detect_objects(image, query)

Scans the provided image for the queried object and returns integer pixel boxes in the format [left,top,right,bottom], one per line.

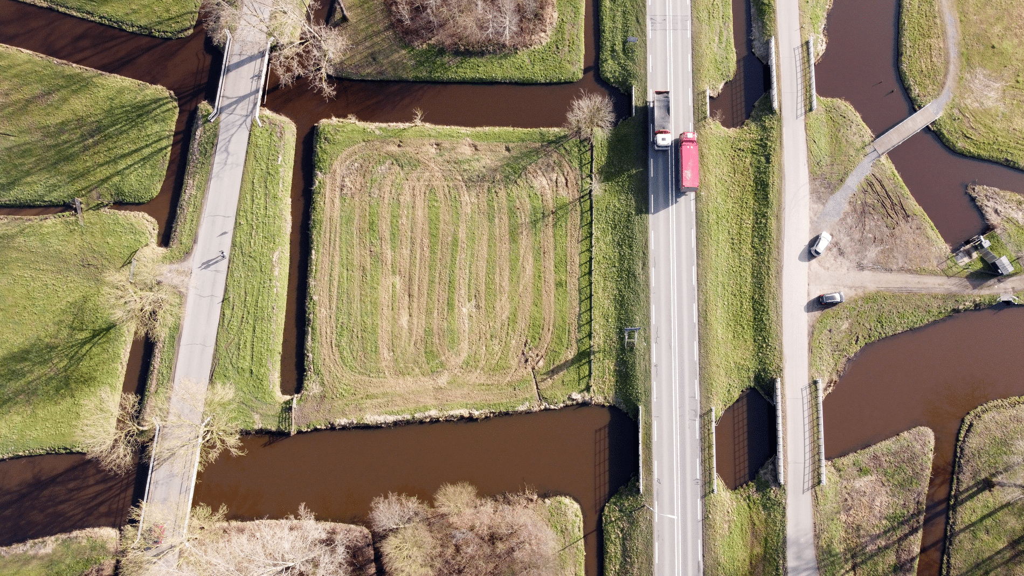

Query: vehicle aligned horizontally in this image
[817,291,846,306]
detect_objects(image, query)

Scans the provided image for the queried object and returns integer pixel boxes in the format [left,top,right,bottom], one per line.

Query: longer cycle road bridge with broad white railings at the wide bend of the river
[766,371,827,492]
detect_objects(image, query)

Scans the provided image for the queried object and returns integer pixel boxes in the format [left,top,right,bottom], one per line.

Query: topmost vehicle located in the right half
[653,90,672,151]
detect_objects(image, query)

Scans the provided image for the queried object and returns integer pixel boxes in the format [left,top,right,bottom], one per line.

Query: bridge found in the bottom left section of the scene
[131,415,213,547]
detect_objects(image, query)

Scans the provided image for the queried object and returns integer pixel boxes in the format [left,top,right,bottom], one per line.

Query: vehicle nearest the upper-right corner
[810,231,832,256]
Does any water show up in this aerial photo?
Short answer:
Yes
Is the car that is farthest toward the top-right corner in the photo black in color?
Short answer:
No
